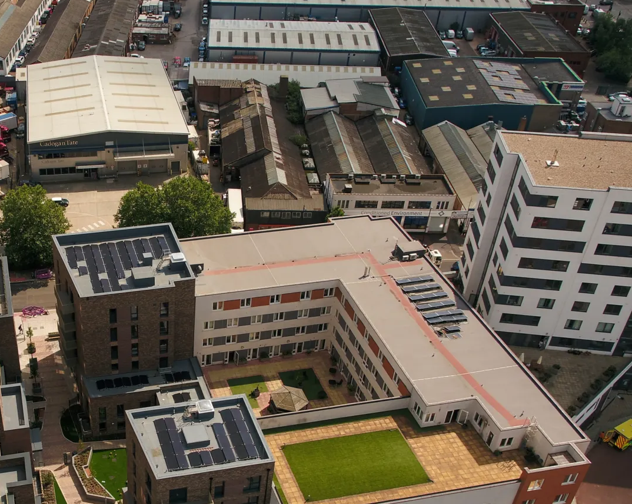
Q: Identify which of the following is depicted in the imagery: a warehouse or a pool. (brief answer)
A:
warehouse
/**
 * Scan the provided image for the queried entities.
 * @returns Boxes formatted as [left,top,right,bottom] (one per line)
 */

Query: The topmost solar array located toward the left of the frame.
[66,237,168,293]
